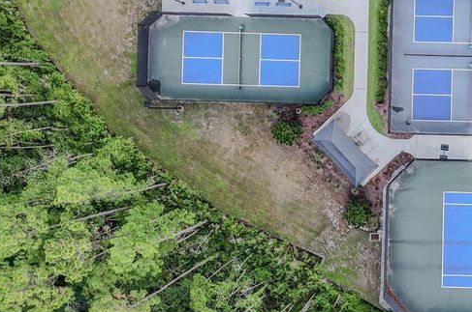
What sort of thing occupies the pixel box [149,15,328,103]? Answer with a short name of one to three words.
sports court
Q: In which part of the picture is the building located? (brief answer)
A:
right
